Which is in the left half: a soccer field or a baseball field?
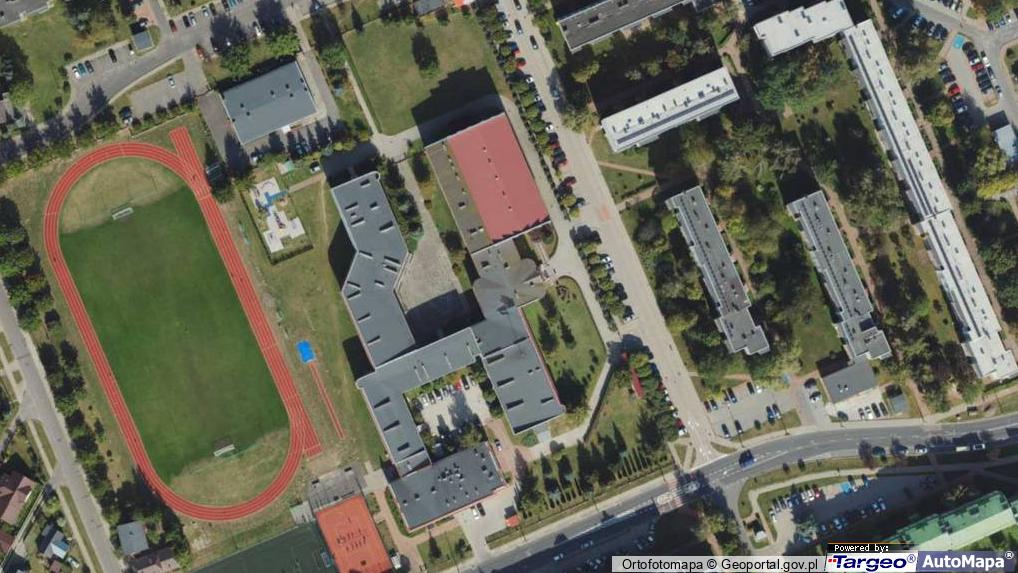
soccer field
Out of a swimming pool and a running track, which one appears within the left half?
running track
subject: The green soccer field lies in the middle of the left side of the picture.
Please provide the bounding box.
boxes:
[59,157,289,505]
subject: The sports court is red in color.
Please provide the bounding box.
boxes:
[316,494,395,573]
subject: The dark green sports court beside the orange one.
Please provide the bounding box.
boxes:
[188,516,338,573]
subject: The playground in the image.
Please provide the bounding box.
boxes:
[252,178,304,253]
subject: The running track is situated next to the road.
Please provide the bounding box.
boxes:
[42,126,323,522]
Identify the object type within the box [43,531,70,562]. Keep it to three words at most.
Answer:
house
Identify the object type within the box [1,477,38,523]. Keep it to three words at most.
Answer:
house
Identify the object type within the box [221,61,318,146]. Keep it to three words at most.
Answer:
building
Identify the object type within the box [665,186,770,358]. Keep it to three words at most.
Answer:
building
